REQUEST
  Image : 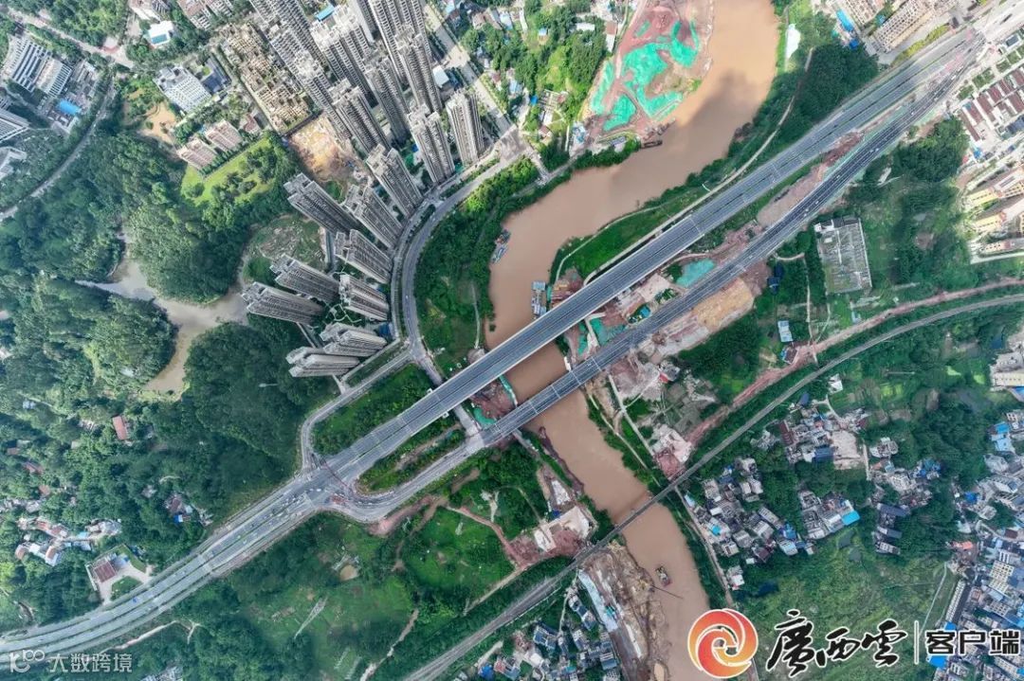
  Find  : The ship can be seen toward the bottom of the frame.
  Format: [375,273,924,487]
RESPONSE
[654,561,674,587]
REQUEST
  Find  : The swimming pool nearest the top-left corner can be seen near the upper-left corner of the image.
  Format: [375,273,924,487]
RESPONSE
[148,20,170,44]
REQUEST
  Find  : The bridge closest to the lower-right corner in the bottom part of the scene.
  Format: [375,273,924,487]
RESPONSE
[595,485,667,544]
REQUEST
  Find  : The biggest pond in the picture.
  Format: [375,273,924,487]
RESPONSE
[76,244,251,390]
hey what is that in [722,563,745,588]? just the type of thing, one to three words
house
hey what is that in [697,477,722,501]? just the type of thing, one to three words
house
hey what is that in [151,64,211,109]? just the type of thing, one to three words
building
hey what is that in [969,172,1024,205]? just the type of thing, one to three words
building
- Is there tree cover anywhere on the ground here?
Yes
